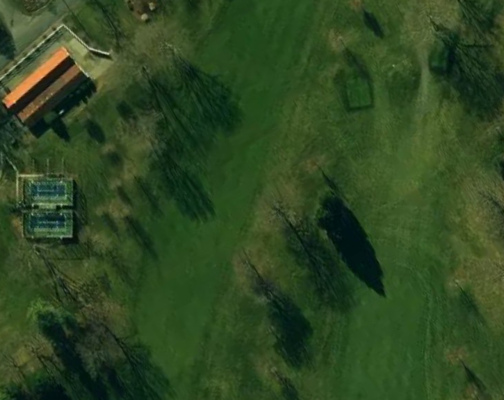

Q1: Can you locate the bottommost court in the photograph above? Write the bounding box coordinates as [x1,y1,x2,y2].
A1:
[23,209,73,237]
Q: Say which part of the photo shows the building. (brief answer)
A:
top left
